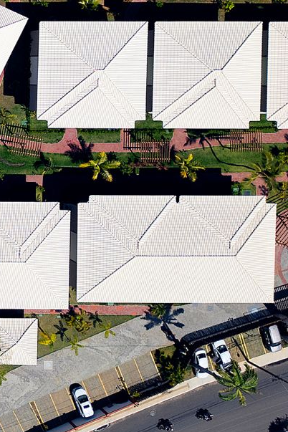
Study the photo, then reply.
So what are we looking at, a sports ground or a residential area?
residential area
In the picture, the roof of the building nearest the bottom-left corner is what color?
white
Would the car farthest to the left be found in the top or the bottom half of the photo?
bottom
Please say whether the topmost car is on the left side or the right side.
right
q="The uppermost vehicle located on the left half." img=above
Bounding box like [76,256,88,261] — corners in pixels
[67,383,95,419]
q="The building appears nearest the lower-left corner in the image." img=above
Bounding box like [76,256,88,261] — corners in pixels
[0,318,38,366]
